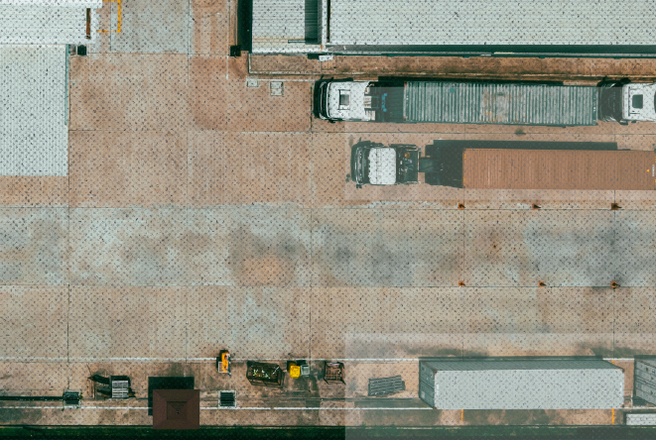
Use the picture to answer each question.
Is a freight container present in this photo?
Yes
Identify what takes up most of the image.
paved ground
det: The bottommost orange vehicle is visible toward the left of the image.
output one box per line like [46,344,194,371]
[216,349,231,376]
